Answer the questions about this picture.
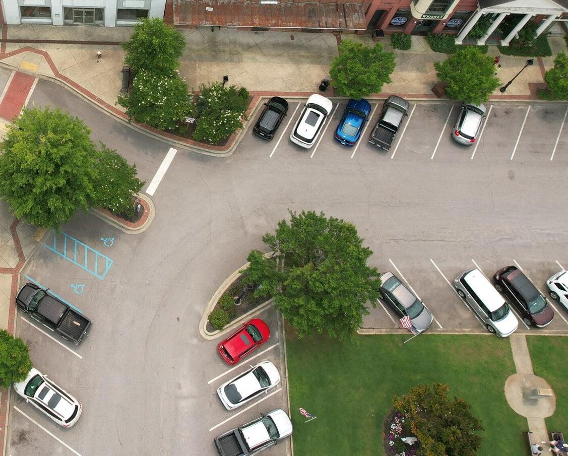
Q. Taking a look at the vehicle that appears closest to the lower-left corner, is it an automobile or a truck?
automobile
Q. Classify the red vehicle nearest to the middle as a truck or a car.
car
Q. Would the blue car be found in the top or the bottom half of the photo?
top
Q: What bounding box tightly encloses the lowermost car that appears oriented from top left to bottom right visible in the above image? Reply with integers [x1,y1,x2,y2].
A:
[14,371,81,431]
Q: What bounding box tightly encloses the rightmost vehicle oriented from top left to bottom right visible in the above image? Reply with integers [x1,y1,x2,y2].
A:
[492,261,554,331]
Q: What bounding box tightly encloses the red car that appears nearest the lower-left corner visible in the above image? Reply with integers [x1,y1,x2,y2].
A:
[215,318,274,369]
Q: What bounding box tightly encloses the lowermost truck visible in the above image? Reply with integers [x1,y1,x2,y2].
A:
[211,406,294,456]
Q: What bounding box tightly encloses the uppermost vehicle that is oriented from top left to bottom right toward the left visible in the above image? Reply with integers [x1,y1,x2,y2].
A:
[25,287,100,351]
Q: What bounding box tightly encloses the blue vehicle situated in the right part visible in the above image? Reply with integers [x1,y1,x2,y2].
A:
[333,96,371,151]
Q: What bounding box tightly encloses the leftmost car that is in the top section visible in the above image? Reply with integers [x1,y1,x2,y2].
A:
[252,92,290,146]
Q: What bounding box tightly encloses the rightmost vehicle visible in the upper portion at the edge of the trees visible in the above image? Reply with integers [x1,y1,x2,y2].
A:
[451,99,491,151]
